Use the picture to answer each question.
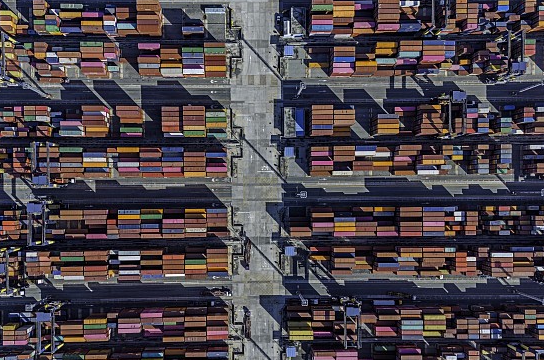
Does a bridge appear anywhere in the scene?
No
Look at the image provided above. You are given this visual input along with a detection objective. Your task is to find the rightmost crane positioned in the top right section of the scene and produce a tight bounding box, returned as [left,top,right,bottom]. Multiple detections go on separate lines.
[487,29,527,84]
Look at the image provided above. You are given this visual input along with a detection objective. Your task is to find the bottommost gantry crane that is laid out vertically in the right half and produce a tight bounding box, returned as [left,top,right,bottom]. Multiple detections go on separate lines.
[334,297,360,353]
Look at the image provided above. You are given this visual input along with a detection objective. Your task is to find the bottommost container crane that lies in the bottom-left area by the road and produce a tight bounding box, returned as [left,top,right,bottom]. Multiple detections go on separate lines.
[35,301,71,358]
